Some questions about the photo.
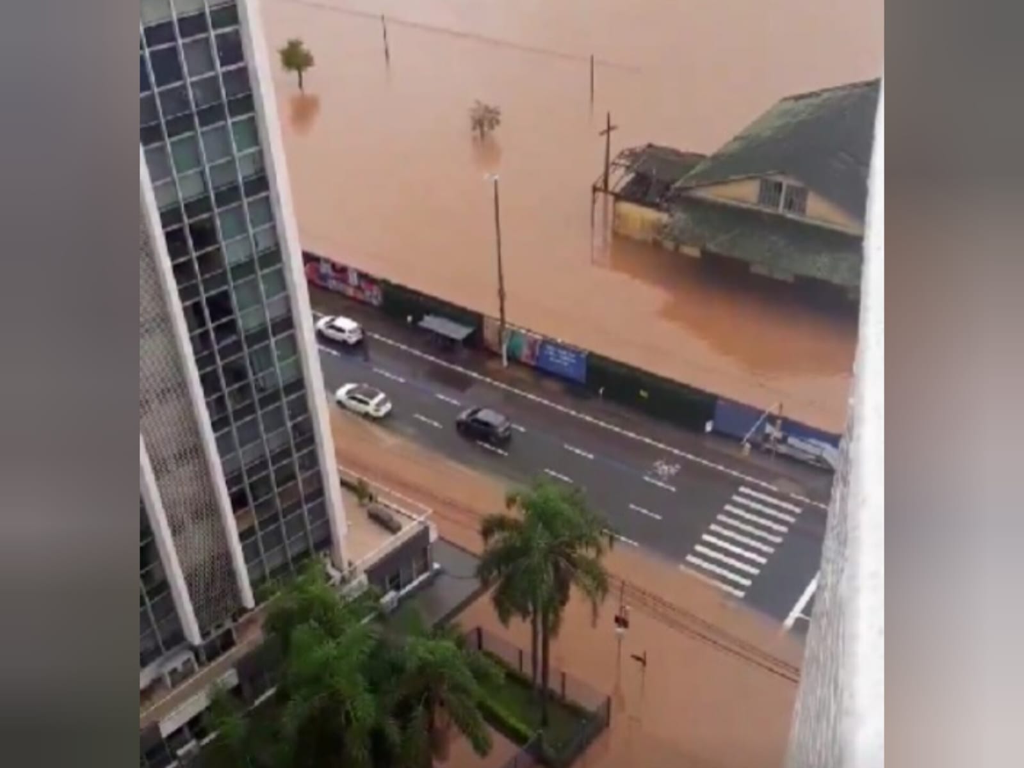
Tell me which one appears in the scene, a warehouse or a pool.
warehouse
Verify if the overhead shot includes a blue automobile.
No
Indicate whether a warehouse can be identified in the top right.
Yes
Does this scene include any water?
Yes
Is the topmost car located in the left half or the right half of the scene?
left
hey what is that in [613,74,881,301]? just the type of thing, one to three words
warehouse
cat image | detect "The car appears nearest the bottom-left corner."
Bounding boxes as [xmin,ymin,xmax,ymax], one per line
[336,384,393,419]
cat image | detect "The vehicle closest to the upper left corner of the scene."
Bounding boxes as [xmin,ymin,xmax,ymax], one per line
[313,315,364,345]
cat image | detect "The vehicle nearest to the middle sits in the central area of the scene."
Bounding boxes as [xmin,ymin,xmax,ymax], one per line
[458,406,519,442]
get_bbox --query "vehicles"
[313,315,364,345]
[458,406,519,442]
[336,384,393,419]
